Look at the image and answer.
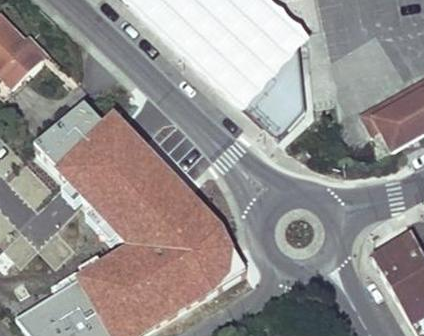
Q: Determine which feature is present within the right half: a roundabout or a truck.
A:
roundabout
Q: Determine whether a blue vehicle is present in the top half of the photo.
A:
No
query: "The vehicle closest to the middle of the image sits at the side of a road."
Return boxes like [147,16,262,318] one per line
[181,150,200,168]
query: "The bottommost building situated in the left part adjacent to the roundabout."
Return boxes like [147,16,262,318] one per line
[16,98,247,336]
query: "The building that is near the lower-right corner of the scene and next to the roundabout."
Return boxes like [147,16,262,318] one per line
[372,228,424,326]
